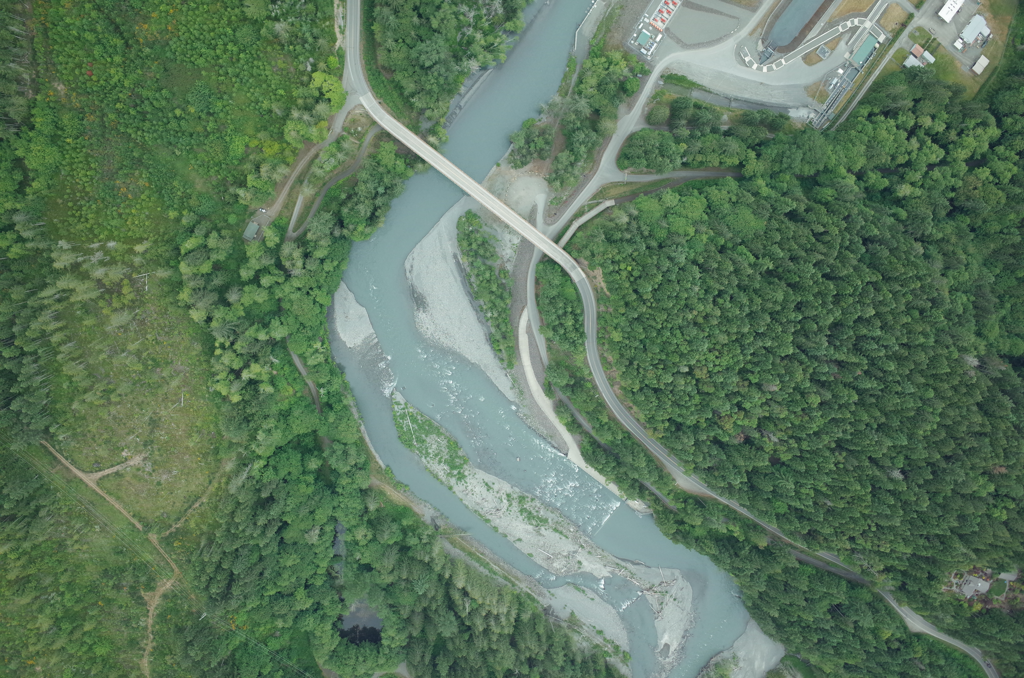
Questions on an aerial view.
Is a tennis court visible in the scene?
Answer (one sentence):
No, I can see no tennis court in this picture.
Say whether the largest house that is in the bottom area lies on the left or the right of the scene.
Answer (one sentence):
The largest house that is in the bottom area appears in the right half of the scene.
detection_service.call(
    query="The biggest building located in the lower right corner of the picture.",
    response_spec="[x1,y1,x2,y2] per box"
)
[959,574,990,596]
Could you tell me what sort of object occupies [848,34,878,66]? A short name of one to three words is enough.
building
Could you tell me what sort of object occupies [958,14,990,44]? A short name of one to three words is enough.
barn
